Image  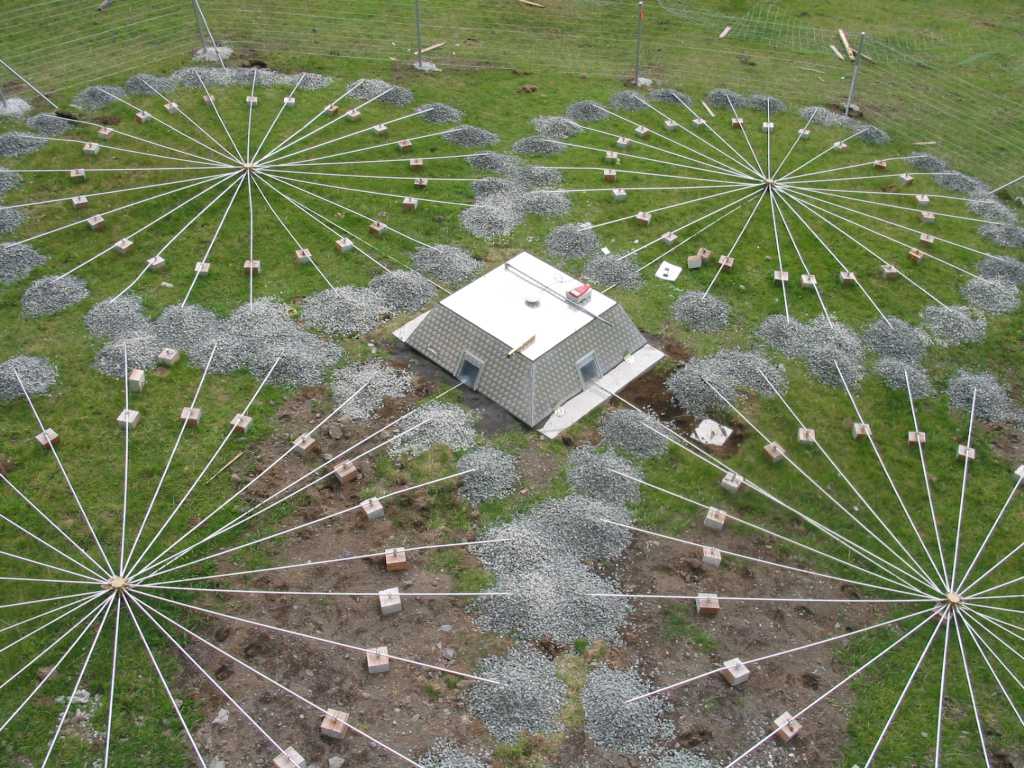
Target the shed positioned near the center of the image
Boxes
[405,249,648,428]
